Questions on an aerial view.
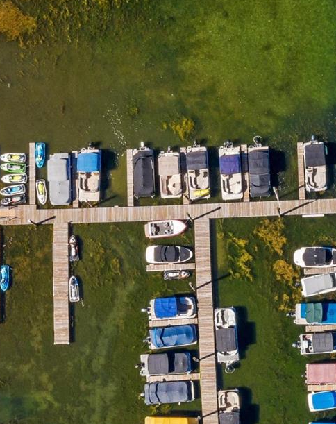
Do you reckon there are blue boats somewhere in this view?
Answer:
Yes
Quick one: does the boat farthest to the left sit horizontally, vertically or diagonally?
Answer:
vertically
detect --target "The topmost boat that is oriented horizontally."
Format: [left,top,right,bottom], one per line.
[145,220,193,239]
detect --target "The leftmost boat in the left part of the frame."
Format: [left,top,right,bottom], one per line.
[47,146,74,209]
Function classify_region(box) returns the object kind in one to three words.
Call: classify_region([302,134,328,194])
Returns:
boat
